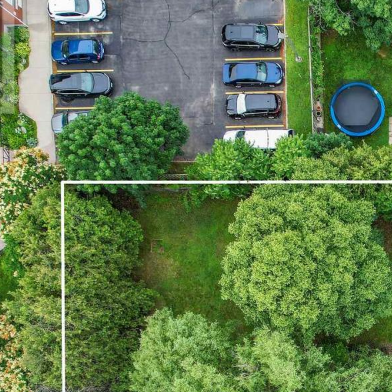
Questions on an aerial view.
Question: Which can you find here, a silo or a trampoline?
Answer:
trampoline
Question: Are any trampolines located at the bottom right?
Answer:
No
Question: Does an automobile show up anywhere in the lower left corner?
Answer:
No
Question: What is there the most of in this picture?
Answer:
trees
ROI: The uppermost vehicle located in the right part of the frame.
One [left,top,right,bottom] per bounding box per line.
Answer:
[221,21,284,54]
